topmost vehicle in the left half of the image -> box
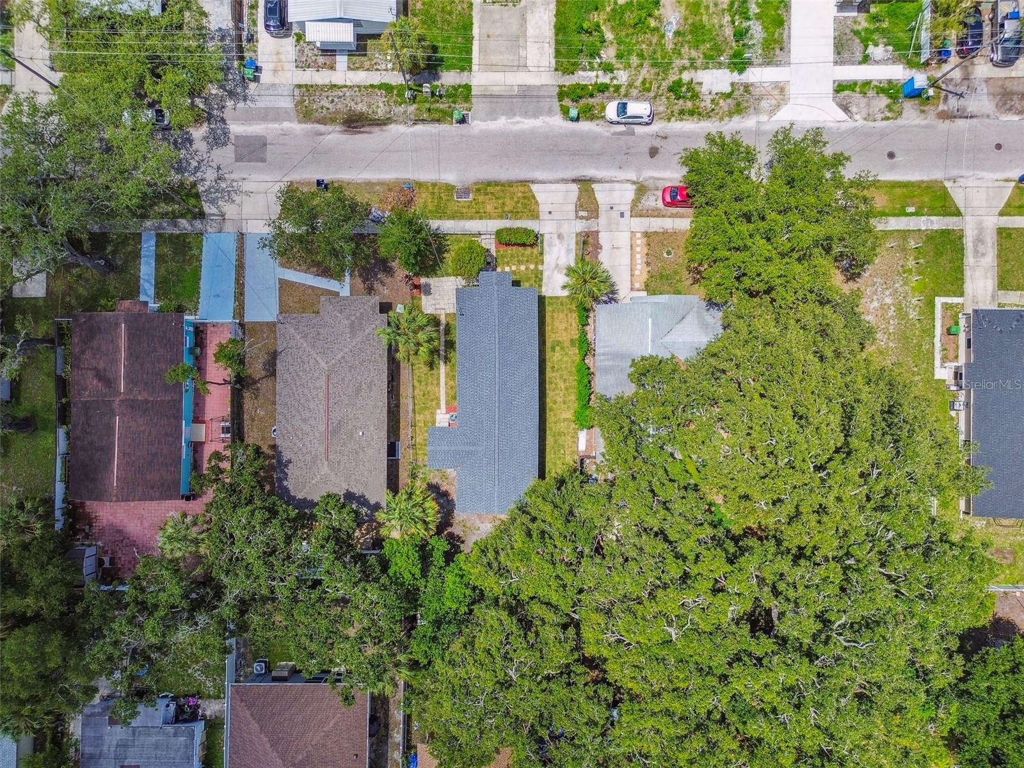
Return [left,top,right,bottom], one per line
[263,0,288,34]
